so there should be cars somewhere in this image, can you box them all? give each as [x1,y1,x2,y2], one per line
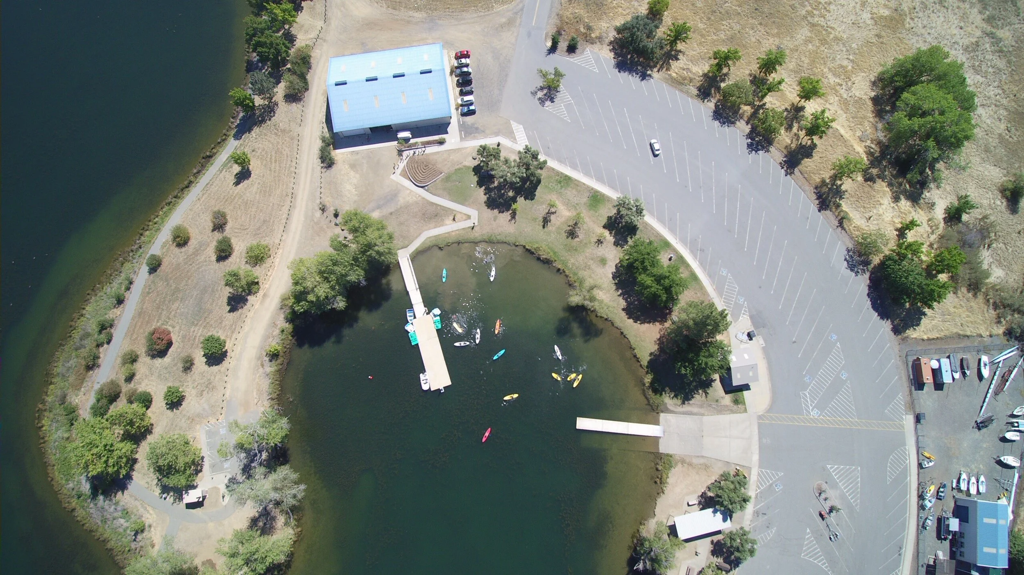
[650,139,662,158]
[458,85,475,96]
[459,105,477,116]
[455,75,474,86]
[457,95,475,106]
[454,48,472,58]
[453,57,471,67]
[454,67,473,77]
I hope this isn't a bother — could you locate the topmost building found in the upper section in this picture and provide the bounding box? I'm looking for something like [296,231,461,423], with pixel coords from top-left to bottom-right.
[328,42,452,140]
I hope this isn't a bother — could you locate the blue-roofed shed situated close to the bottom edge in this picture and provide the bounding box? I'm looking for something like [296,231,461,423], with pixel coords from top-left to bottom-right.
[954,498,1010,575]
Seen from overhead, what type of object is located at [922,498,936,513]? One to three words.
boat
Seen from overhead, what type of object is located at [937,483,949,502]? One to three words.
boat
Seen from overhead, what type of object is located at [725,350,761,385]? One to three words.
building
